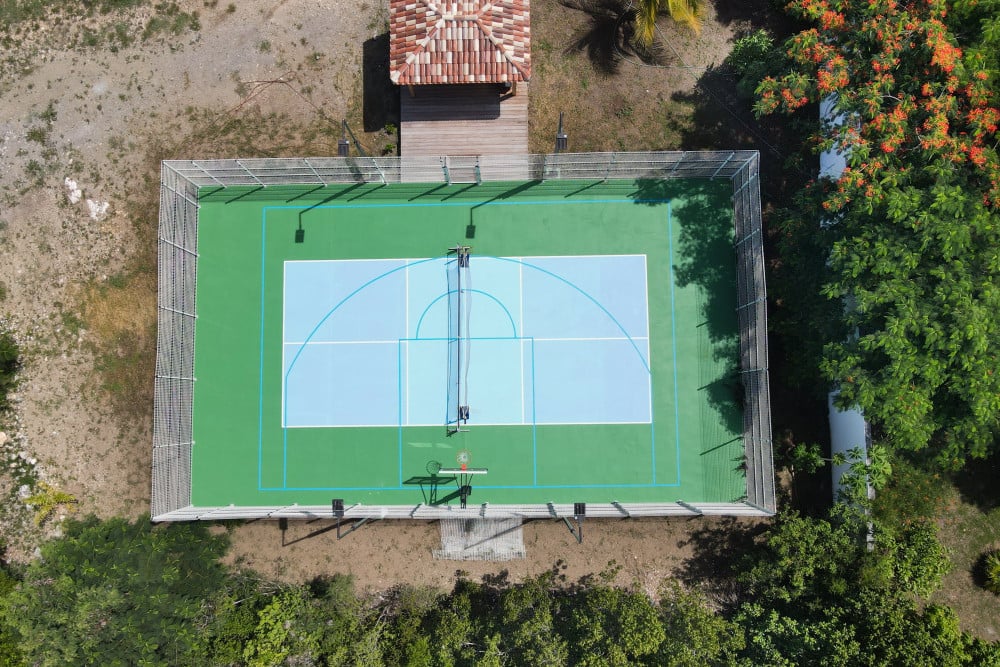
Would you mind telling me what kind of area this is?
sports ground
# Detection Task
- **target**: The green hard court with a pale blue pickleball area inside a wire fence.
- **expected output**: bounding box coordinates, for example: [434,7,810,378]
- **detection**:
[190,176,747,511]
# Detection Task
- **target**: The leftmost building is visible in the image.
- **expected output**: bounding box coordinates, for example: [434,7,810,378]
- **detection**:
[389,0,532,100]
